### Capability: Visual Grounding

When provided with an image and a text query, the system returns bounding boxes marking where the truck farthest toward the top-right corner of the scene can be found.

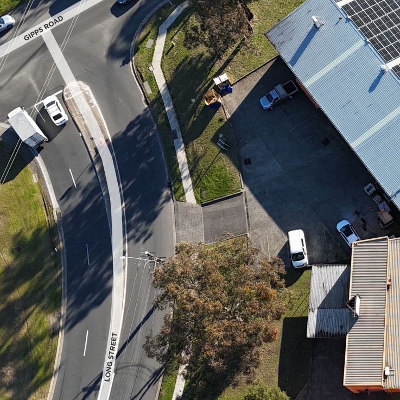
[260,81,298,108]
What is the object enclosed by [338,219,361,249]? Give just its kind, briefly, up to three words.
car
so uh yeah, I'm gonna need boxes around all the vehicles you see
[260,81,298,108]
[44,97,68,125]
[288,227,308,269]
[7,106,45,150]
[0,17,17,34]
[338,219,361,249]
